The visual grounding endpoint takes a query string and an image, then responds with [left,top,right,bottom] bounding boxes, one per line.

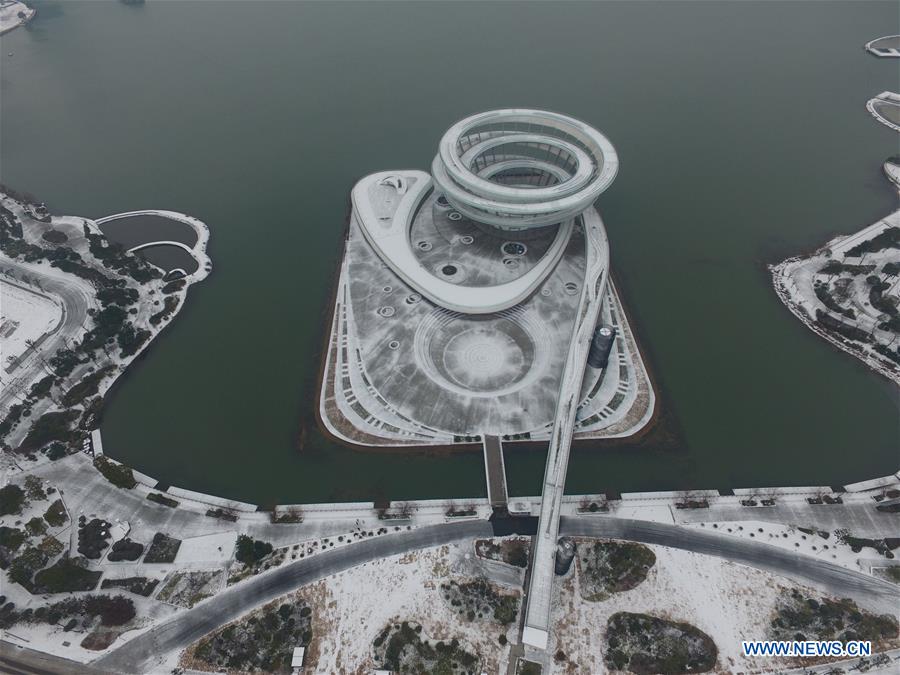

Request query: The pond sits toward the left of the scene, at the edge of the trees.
[99,217,199,280]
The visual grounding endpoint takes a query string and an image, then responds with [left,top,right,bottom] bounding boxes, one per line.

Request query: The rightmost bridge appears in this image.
[522,149,609,653]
